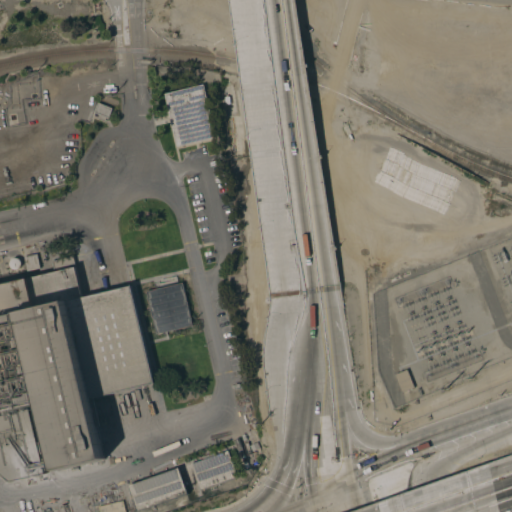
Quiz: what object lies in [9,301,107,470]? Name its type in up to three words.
building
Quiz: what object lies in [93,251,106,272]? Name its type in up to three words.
vehicle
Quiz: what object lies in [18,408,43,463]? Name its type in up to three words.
building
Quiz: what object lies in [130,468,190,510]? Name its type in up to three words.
shed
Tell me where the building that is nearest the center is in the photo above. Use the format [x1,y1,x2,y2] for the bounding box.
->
[148,284,193,332]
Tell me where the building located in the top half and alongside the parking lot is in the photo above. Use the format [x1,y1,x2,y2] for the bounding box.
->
[165,85,214,148]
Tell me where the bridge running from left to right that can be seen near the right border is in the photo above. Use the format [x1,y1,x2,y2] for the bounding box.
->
[348,454,512,512]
